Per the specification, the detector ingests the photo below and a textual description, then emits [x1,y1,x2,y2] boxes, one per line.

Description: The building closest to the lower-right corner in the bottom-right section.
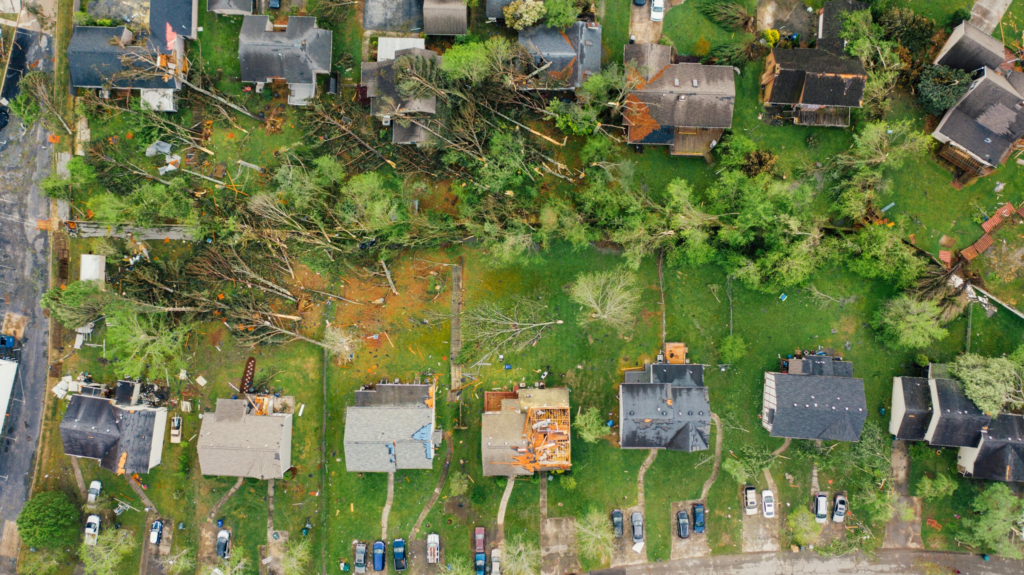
[886,362,1024,486]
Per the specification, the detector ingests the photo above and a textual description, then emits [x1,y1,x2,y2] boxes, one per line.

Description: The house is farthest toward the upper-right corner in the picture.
[932,20,1024,190]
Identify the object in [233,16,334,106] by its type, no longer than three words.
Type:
house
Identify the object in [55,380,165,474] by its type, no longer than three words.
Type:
house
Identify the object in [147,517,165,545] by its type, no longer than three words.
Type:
car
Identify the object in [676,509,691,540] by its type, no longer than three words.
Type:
car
